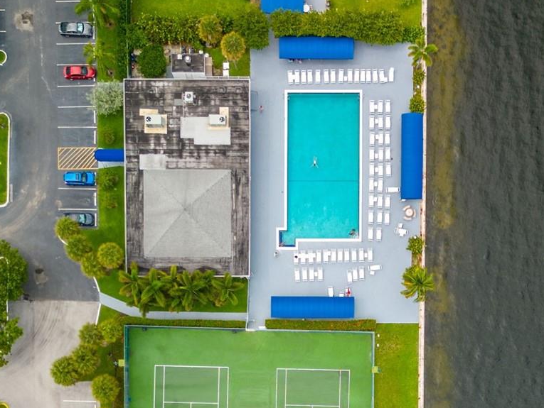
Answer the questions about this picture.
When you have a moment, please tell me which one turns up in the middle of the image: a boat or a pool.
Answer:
pool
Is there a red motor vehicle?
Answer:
Yes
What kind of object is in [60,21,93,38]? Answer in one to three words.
car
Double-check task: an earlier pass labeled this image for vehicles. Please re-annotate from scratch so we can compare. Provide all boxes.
[64,171,97,186]
[60,21,93,38]
[61,213,94,227]
[63,64,97,81]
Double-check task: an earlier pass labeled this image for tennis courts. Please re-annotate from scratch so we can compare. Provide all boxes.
[153,365,229,408]
[275,368,351,408]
